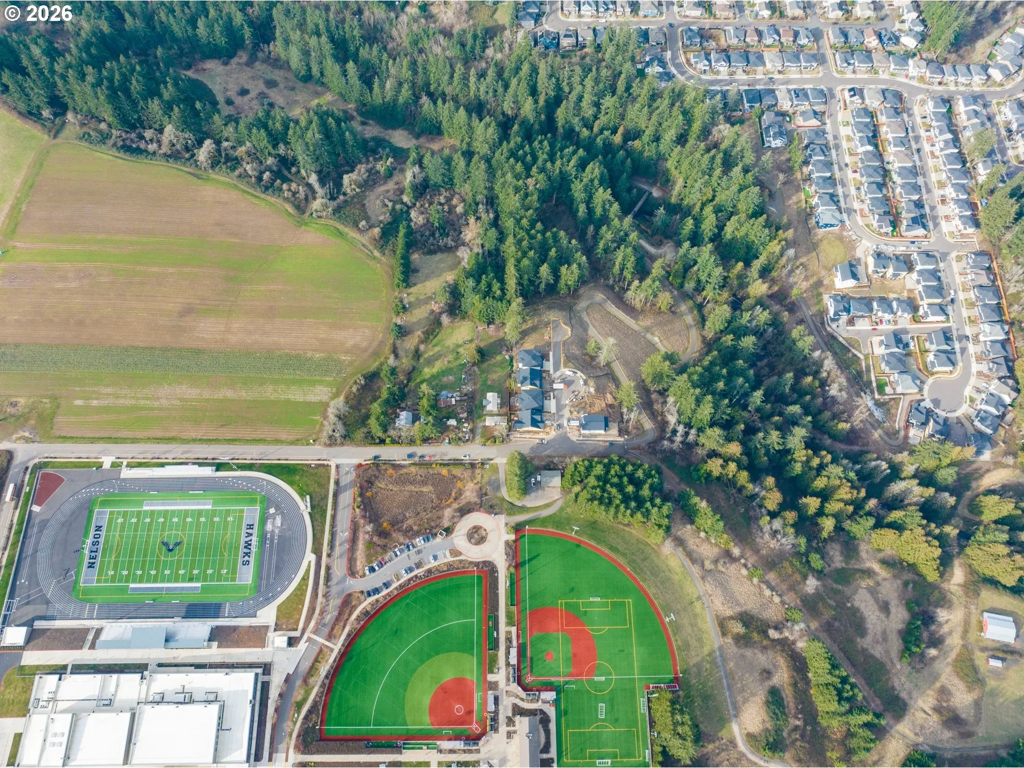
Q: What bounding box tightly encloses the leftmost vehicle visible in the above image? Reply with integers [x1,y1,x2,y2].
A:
[4,483,17,500]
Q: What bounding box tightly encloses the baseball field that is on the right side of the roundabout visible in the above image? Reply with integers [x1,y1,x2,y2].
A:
[515,527,681,768]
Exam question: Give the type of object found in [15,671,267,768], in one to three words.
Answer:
building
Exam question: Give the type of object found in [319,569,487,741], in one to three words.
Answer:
baseball field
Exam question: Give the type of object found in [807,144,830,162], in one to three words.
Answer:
house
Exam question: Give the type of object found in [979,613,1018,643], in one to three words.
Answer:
barn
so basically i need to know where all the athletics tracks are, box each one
[0,467,315,627]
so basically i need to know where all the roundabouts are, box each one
[454,513,500,558]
